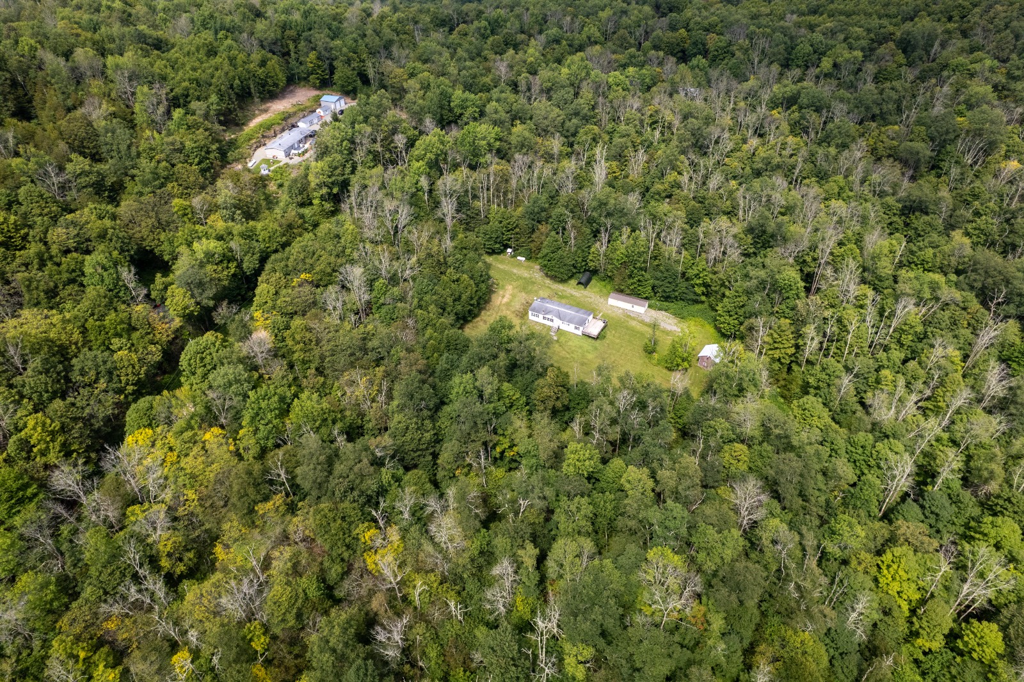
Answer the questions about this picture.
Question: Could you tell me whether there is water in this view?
No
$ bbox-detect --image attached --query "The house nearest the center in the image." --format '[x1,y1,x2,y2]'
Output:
[527,297,595,334]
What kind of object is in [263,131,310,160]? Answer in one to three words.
house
